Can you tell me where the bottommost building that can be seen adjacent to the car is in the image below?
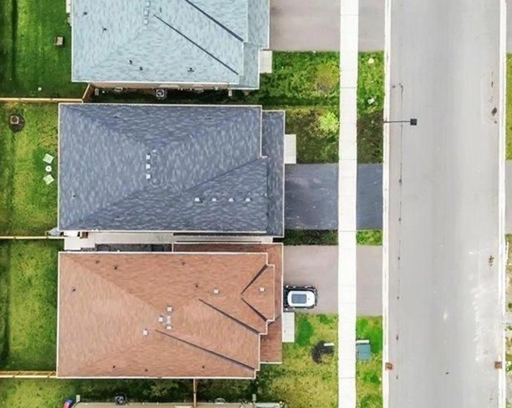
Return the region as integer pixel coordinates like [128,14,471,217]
[58,244,284,378]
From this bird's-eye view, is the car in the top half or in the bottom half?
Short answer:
bottom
